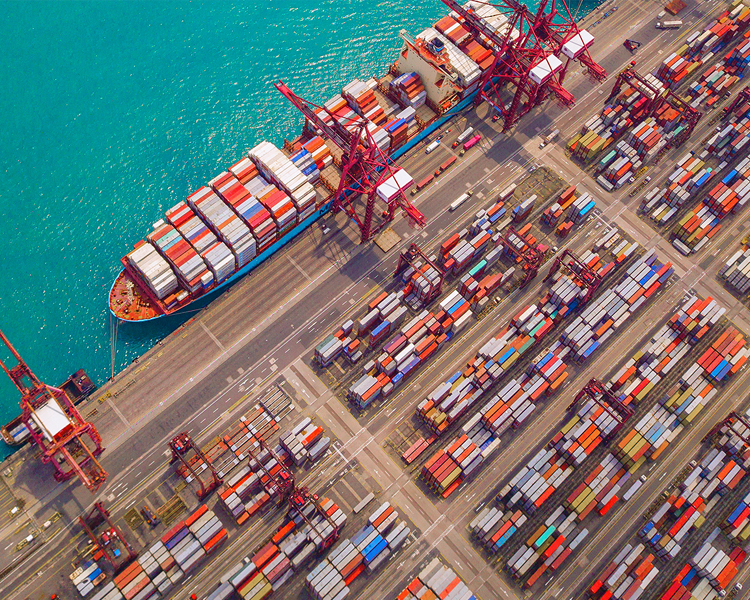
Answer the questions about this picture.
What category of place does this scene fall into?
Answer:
port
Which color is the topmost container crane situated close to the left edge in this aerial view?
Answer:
red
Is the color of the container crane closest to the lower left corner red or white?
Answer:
red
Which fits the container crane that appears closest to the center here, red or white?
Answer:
red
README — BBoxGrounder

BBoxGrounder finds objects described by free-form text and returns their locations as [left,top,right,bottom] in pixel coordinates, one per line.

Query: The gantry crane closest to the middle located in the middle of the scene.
[393,242,449,308]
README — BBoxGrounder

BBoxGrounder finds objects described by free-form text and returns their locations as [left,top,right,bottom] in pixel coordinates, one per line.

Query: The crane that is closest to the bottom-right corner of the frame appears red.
[703,409,750,448]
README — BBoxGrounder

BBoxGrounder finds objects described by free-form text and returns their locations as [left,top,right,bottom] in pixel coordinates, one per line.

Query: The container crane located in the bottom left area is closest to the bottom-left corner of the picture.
[78,502,141,577]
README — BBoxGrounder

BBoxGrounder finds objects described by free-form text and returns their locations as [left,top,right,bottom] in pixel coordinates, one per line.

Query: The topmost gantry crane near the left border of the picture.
[0,329,111,496]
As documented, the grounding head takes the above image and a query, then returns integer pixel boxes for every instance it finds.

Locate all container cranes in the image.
[724,83,750,116]
[703,409,750,448]
[488,224,547,288]
[282,485,341,558]
[544,247,606,310]
[0,329,111,496]
[570,374,638,442]
[606,67,664,124]
[168,429,226,501]
[494,0,607,106]
[642,89,704,152]
[270,80,428,245]
[78,502,141,577]
[393,242,449,308]
[244,437,300,508]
